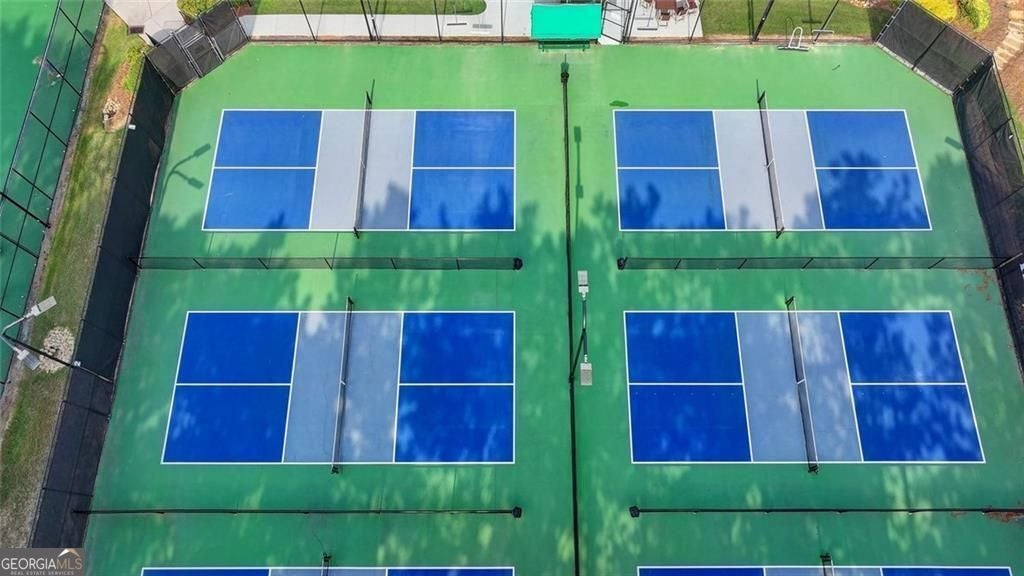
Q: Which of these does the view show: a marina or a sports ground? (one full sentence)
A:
The picture captures a sports ground.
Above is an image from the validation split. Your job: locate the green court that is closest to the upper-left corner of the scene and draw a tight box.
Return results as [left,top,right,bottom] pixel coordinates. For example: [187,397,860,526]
[0,0,105,415]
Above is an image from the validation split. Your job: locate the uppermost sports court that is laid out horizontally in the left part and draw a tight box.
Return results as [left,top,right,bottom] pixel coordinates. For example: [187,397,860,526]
[201,109,516,232]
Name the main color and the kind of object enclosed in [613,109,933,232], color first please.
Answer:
blue sports court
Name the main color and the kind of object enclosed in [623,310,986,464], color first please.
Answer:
blue sports court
